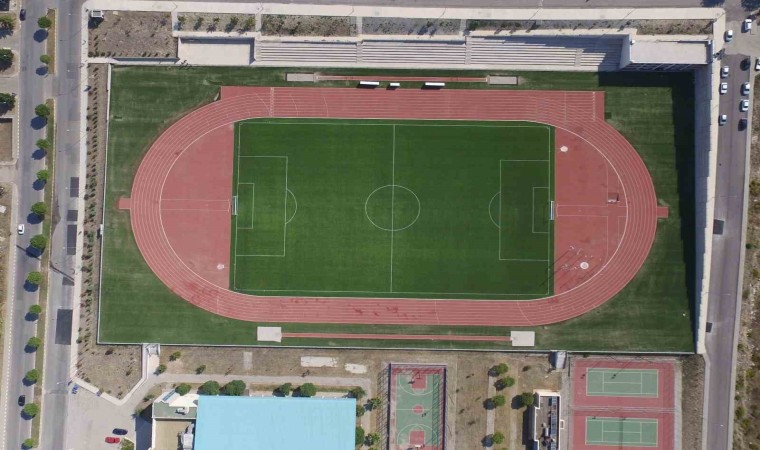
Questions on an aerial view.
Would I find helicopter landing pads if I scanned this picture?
No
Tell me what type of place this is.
sports ground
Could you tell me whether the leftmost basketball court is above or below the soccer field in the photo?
below it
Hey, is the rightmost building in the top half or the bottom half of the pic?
top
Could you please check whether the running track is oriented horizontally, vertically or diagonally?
horizontally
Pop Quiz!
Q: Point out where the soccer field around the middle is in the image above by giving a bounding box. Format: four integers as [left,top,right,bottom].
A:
[232,119,554,299]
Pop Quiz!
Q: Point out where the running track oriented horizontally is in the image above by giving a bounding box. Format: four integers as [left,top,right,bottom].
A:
[118,87,668,324]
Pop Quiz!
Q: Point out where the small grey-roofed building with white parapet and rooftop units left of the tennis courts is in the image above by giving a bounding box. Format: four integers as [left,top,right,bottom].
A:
[528,389,564,450]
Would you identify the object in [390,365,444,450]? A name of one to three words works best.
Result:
basketball court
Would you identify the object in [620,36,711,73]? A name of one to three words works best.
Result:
building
